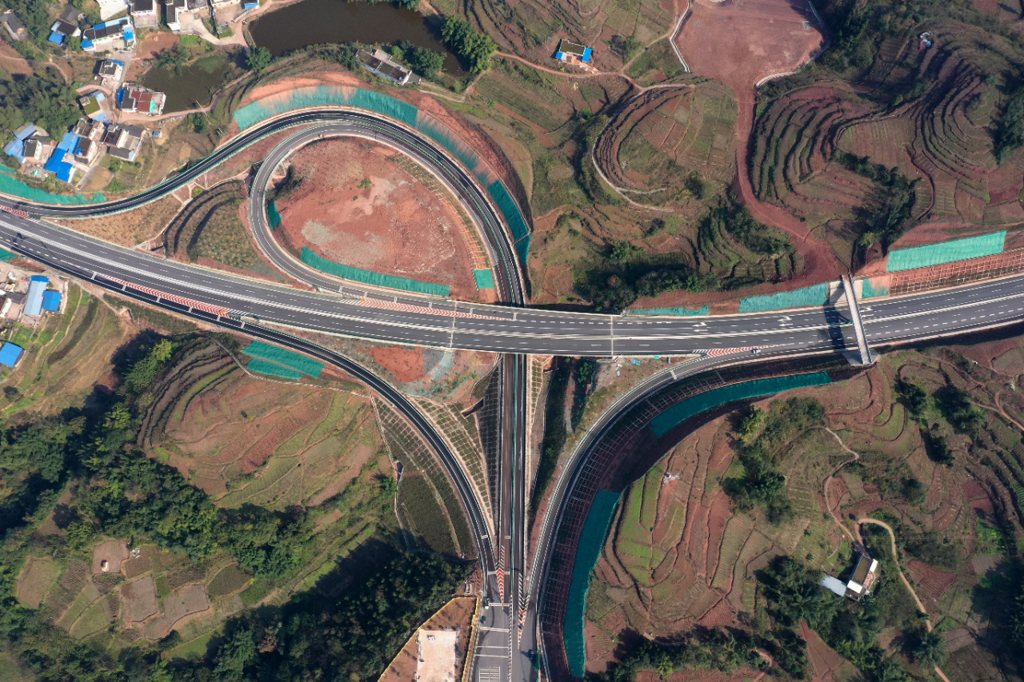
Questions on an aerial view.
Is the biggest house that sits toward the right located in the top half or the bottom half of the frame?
bottom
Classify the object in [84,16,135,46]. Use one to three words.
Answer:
house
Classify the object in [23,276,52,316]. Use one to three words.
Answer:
shed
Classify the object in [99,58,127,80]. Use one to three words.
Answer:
house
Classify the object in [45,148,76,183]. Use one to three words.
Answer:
shed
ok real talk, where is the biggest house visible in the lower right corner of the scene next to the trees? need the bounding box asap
[844,553,878,602]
